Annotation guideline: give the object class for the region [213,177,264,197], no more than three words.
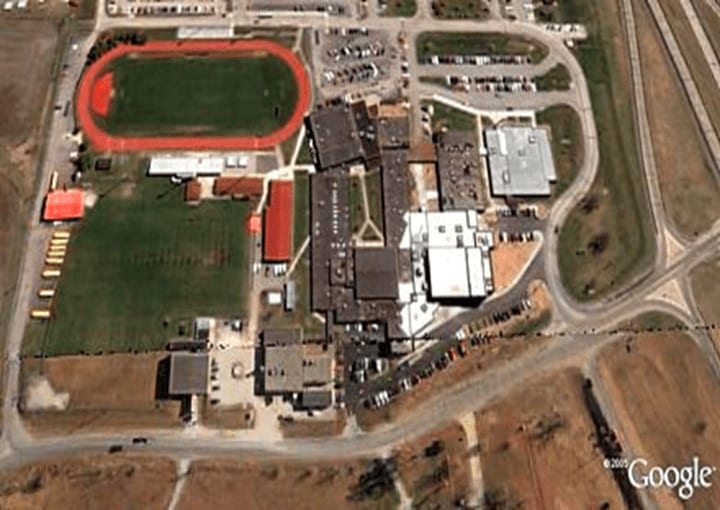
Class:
building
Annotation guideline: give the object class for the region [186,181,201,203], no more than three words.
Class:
building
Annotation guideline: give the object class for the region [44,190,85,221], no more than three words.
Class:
barn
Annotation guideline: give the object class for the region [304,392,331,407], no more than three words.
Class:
shed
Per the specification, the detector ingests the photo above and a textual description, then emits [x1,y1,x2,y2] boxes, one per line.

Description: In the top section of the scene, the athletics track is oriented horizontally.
[77,38,311,152]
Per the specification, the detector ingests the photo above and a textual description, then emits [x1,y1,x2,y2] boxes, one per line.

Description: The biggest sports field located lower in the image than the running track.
[24,179,248,357]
